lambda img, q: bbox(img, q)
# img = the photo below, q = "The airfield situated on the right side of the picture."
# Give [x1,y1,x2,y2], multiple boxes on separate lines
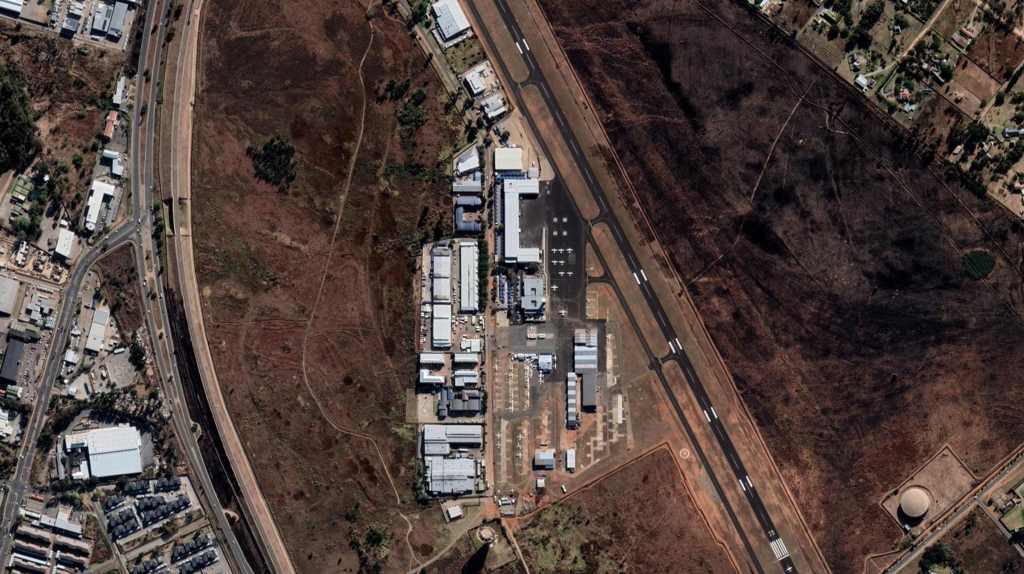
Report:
[466,0,798,574]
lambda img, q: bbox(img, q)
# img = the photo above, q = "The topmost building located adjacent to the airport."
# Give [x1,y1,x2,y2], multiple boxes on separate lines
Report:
[433,0,470,38]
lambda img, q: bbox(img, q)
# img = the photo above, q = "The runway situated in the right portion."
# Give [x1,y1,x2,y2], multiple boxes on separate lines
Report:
[493,0,798,574]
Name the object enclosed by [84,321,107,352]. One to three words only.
building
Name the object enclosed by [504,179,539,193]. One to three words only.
hangar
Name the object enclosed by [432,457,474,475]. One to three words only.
building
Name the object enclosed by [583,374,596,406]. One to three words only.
hangar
